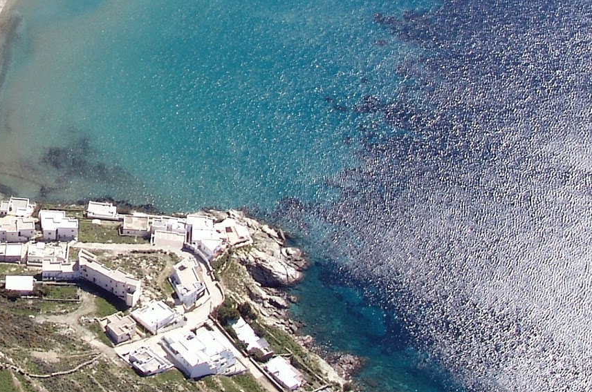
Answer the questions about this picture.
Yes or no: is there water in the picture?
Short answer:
Yes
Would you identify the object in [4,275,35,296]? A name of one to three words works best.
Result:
house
